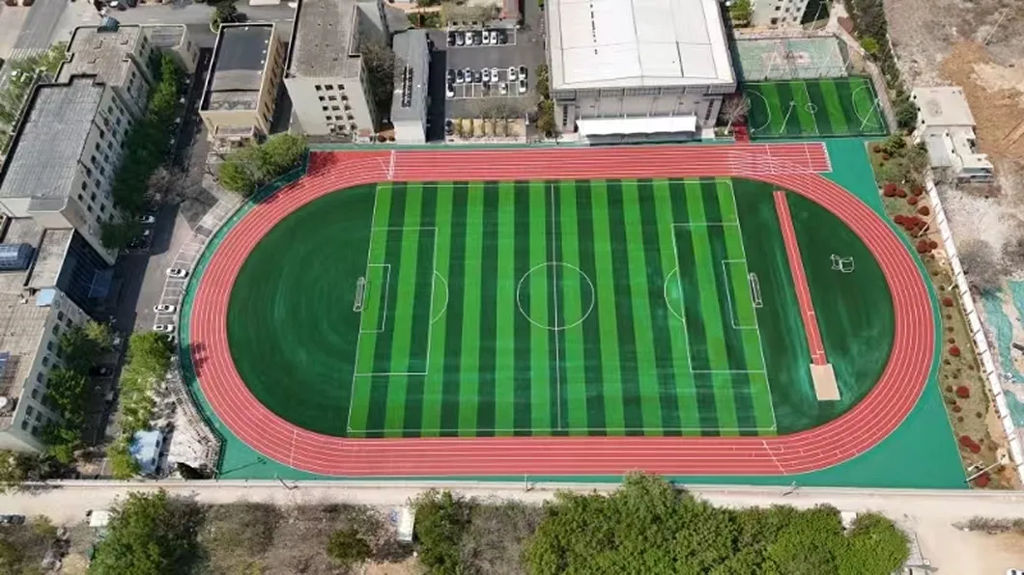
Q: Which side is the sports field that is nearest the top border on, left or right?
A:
right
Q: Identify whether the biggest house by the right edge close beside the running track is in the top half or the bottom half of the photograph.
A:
top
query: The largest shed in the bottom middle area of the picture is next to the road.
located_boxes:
[397,508,415,544]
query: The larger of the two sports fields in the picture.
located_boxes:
[228,176,894,438]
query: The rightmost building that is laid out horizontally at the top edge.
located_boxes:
[746,0,810,29]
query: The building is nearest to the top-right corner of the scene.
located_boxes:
[908,87,994,182]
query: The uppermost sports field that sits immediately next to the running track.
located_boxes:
[741,78,888,136]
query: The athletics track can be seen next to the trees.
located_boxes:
[178,136,968,485]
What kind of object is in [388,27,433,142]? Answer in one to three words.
building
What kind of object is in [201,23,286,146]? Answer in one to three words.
building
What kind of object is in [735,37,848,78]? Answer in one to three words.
sports court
